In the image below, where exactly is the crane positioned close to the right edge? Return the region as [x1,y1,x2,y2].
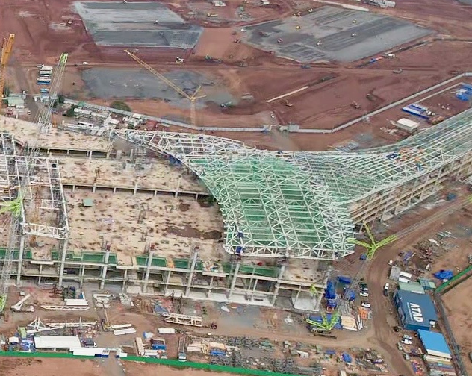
[308,193,472,338]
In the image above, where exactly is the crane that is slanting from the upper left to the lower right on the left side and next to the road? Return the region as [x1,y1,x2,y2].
[124,49,206,133]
